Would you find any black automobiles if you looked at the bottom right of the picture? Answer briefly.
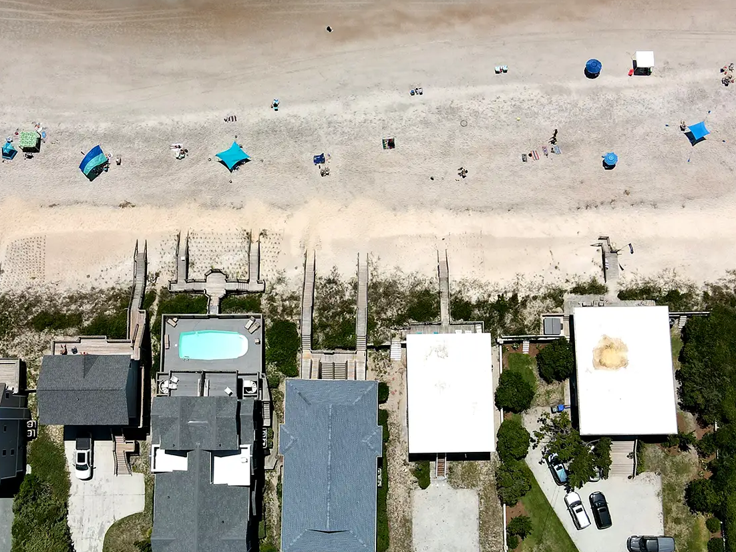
Yes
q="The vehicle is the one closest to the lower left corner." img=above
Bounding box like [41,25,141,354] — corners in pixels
[73,435,94,480]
